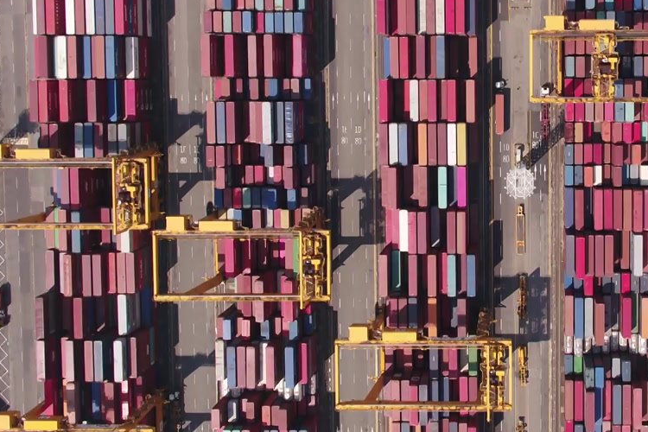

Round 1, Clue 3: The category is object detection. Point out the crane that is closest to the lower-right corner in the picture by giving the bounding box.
[335,300,512,427]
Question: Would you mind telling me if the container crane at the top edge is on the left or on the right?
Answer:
right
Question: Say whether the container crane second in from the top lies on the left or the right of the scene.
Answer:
left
